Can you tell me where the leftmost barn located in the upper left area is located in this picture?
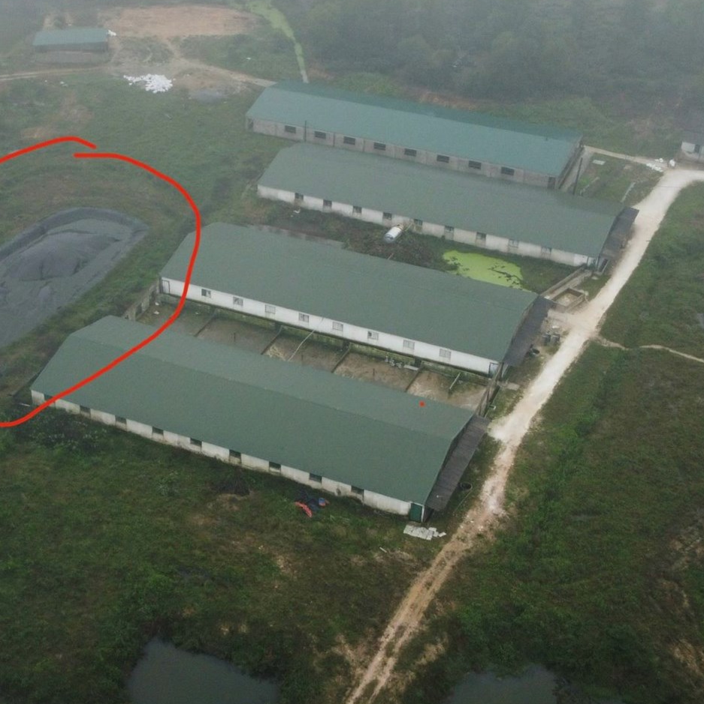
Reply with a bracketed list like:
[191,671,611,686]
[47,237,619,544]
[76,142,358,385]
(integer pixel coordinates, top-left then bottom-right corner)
[31,22,110,68]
